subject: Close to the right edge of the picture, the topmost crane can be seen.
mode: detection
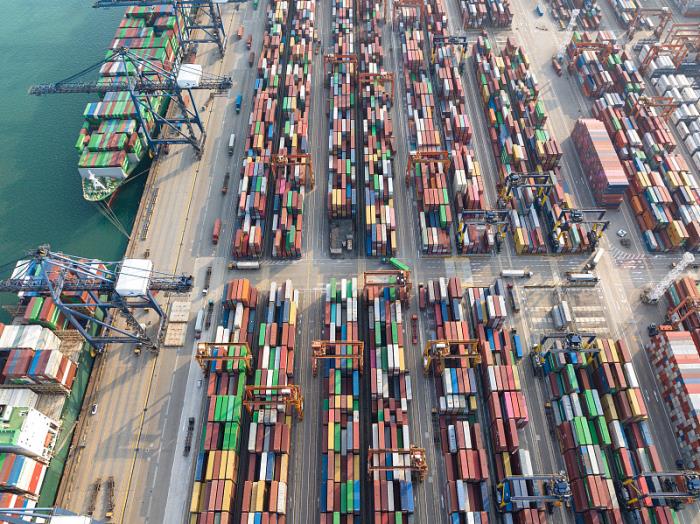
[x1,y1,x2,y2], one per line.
[626,5,674,40]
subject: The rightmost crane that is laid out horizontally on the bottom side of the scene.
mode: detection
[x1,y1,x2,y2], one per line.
[612,471,700,510]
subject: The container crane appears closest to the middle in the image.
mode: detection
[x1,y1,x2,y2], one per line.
[362,268,413,308]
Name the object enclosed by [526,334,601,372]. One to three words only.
container crane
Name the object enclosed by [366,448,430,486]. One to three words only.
container crane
